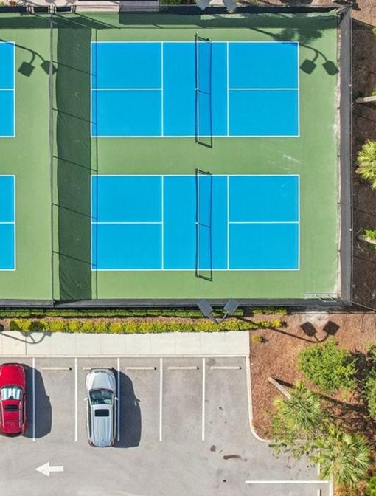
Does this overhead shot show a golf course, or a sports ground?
sports ground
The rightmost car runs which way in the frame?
from top to bottom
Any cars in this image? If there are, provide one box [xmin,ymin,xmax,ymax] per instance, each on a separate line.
[0,361,30,436]
[83,367,121,446]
